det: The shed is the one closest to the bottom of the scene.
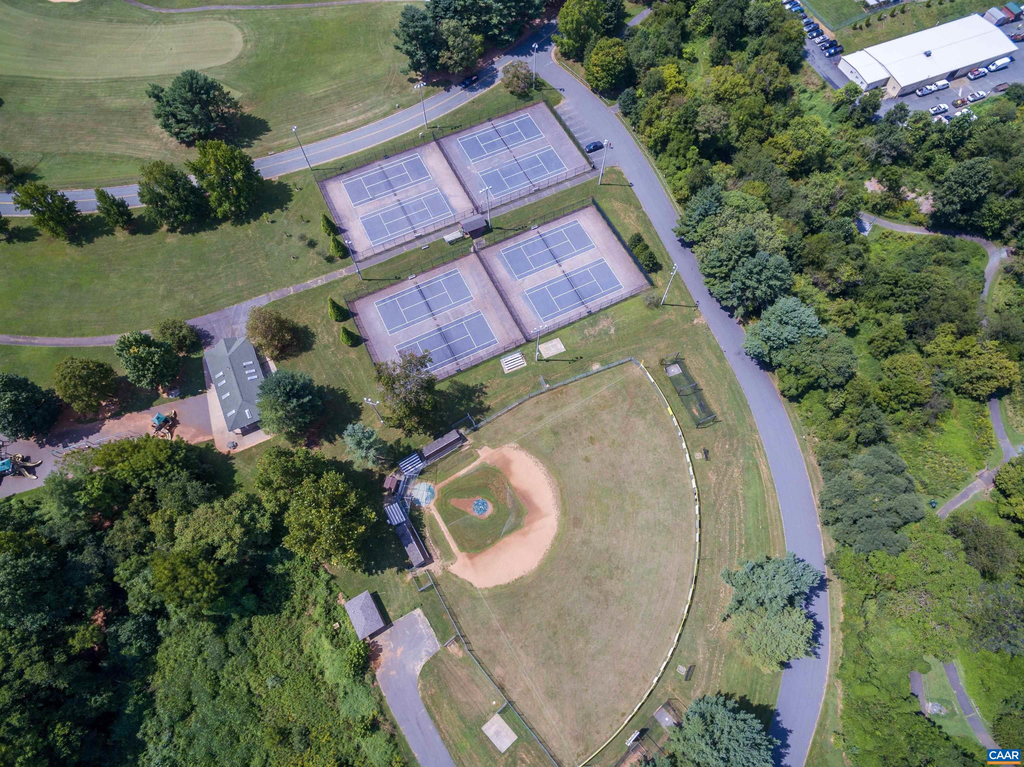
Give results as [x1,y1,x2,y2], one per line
[345,590,385,638]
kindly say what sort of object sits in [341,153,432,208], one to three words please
tennis court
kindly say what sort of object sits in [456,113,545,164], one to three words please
tennis court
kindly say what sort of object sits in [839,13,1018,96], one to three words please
building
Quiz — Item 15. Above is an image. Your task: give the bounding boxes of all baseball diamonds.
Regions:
[407,361,698,767]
